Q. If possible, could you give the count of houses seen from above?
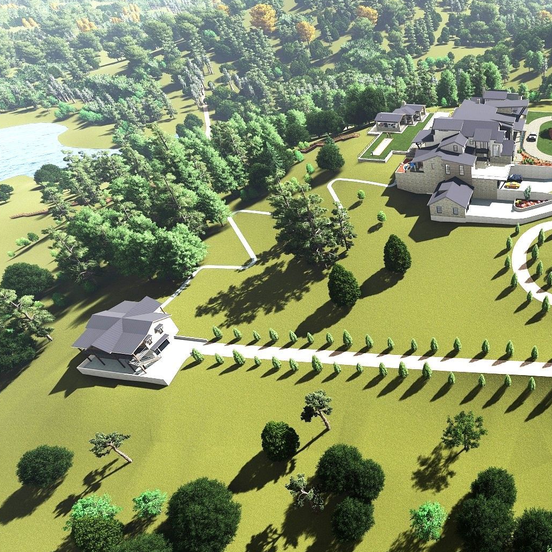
two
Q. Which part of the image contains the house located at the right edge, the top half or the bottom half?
top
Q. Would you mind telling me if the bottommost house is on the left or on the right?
left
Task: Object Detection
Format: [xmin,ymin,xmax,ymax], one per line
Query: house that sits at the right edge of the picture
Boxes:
[394,88,529,222]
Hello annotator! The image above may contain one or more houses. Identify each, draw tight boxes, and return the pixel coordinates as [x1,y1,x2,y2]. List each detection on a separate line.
[394,88,529,222]
[70,295,179,374]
